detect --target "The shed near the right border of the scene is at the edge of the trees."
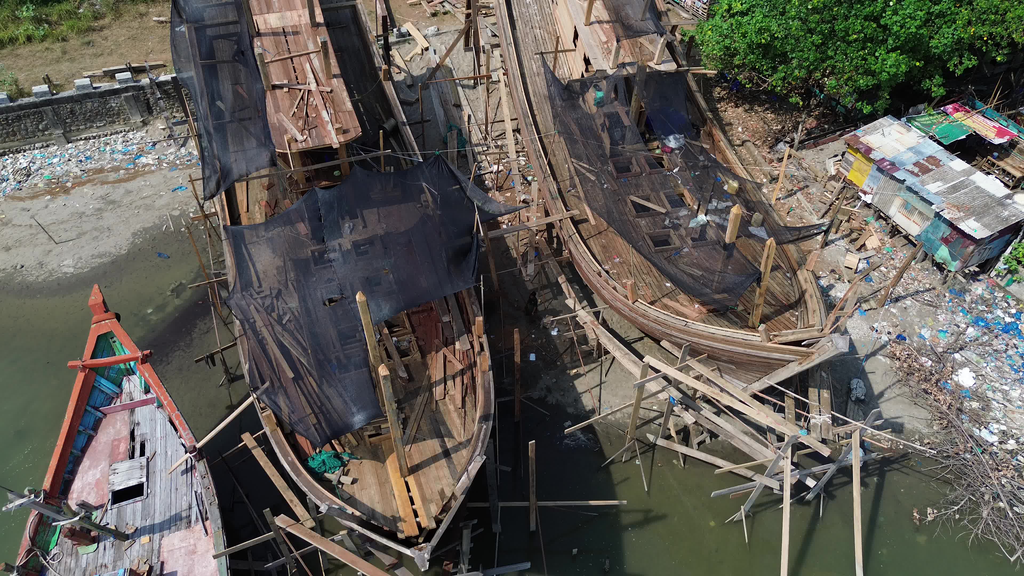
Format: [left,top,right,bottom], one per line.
[835,111,1024,274]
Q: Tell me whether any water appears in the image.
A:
Yes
